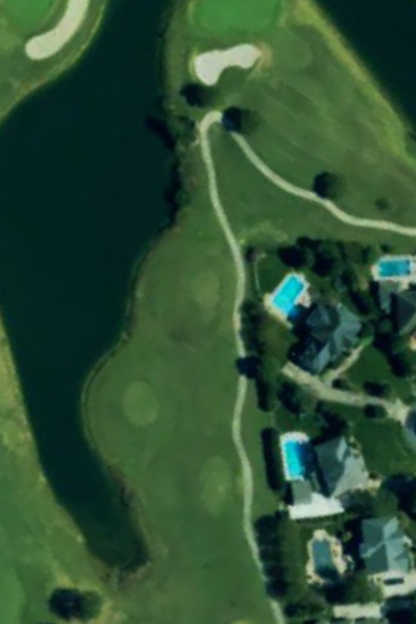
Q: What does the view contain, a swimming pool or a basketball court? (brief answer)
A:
swimming pool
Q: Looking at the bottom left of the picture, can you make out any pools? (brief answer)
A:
No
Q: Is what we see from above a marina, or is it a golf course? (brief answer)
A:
golf course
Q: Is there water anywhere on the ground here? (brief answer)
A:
Yes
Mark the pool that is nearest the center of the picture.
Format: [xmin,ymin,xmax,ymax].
[265,272,313,328]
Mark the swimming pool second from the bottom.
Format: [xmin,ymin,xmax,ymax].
[280,432,318,480]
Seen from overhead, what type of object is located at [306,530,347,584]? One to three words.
swimming pool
